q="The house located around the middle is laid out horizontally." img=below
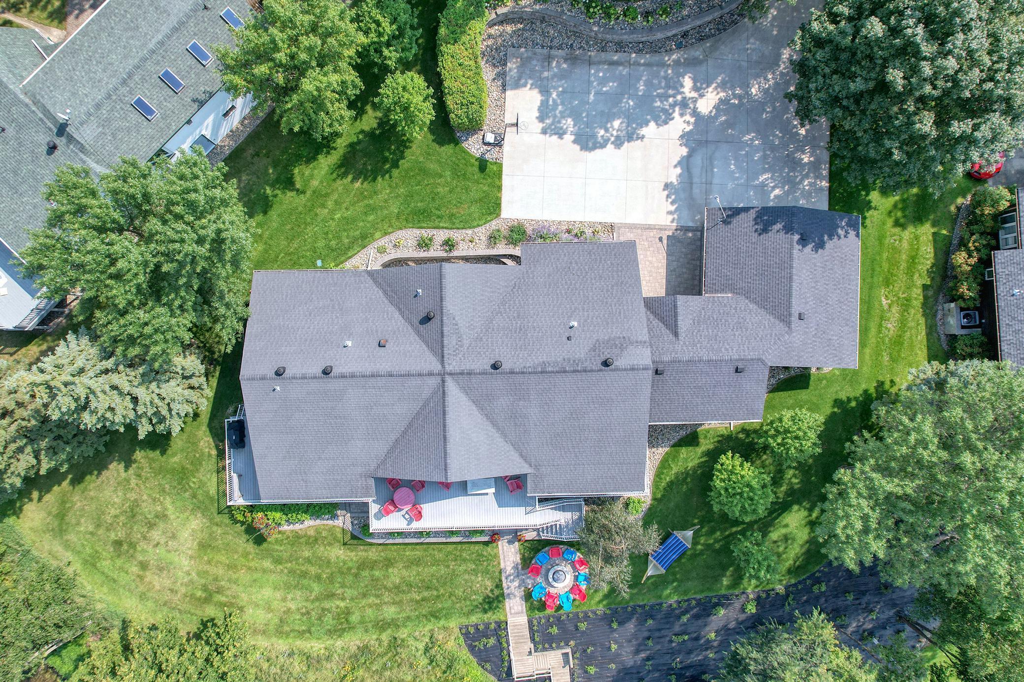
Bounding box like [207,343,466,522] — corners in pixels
[240,194,863,505]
